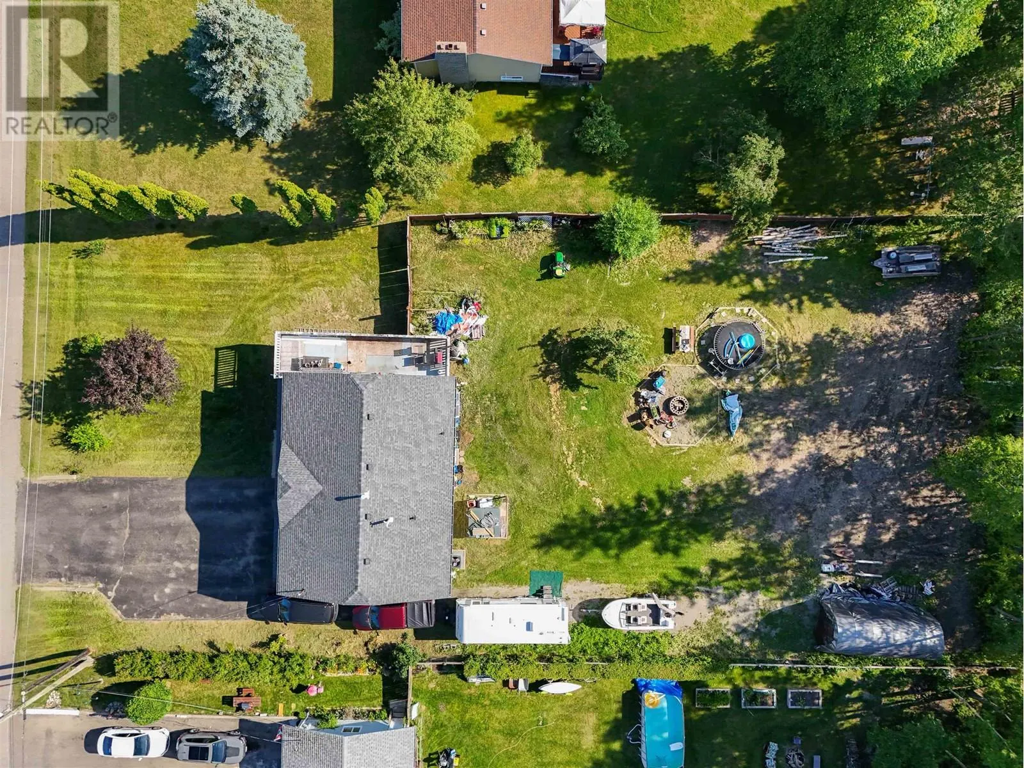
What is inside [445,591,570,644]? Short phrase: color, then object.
white camper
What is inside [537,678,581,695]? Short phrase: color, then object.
white boat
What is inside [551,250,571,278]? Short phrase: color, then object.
green work vehicle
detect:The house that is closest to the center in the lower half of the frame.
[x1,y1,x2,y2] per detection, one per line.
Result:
[274,373,459,608]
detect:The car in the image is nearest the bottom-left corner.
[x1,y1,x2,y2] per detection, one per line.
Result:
[99,721,173,760]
